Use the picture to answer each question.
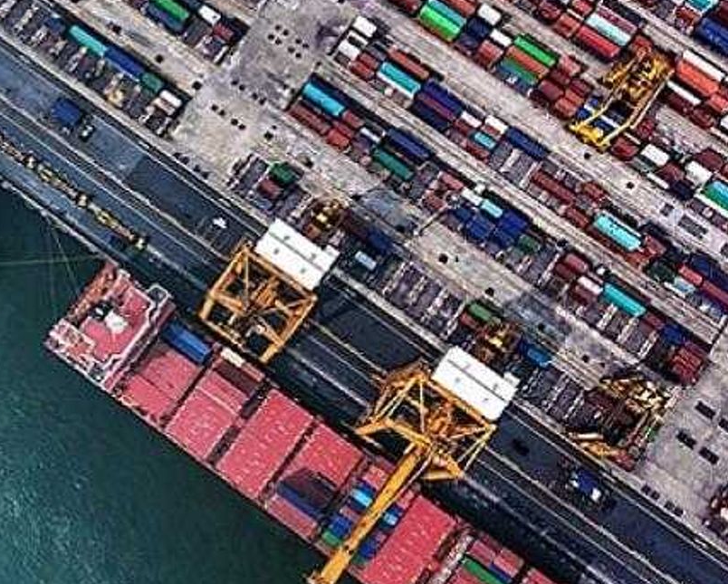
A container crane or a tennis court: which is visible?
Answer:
container crane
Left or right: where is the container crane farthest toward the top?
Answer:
right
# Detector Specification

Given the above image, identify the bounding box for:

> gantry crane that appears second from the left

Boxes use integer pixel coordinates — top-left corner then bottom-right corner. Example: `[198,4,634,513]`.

[303,315,520,584]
